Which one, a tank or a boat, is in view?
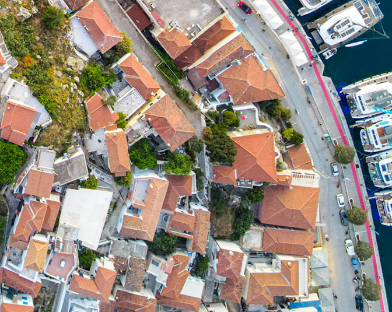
boat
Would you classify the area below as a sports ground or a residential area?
residential area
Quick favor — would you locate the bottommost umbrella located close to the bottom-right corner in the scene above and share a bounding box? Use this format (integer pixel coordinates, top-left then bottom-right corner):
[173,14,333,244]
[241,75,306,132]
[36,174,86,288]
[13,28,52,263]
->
[315,286,335,312]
